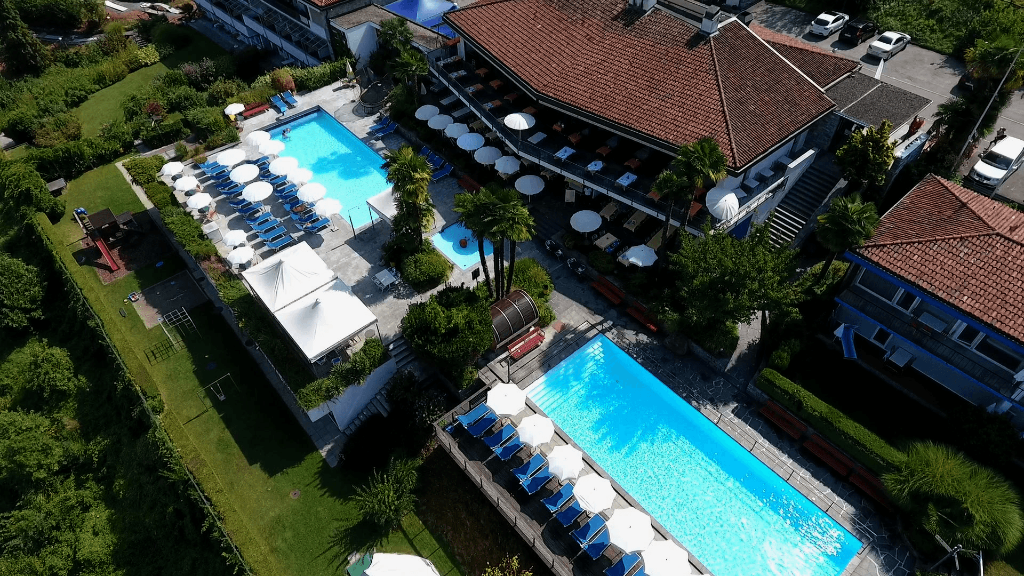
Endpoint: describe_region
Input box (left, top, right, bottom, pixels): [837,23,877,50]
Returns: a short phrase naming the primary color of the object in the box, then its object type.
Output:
black car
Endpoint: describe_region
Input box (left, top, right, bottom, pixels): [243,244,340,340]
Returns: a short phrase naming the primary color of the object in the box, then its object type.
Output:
white tent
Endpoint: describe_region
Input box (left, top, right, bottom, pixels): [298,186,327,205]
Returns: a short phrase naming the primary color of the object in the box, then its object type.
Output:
white umbrella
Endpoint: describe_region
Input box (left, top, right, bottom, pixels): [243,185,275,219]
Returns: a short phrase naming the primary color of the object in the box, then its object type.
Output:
white umbrella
